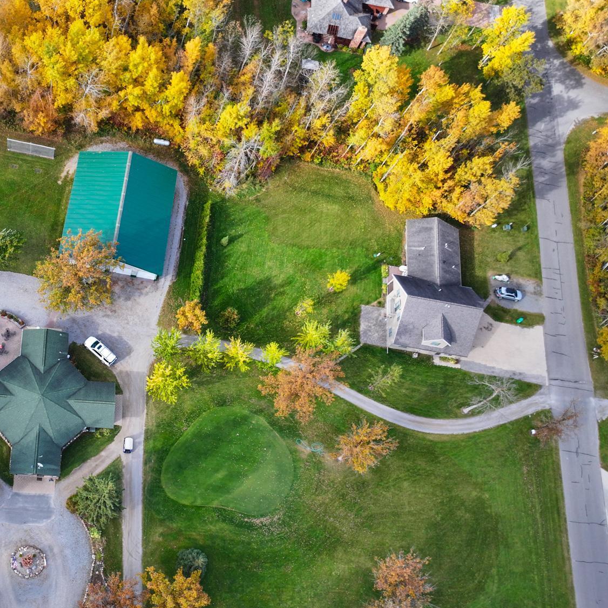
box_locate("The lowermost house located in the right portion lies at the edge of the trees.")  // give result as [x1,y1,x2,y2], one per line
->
[382,218,483,360]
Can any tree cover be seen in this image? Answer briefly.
Yes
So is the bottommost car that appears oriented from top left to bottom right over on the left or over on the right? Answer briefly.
left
